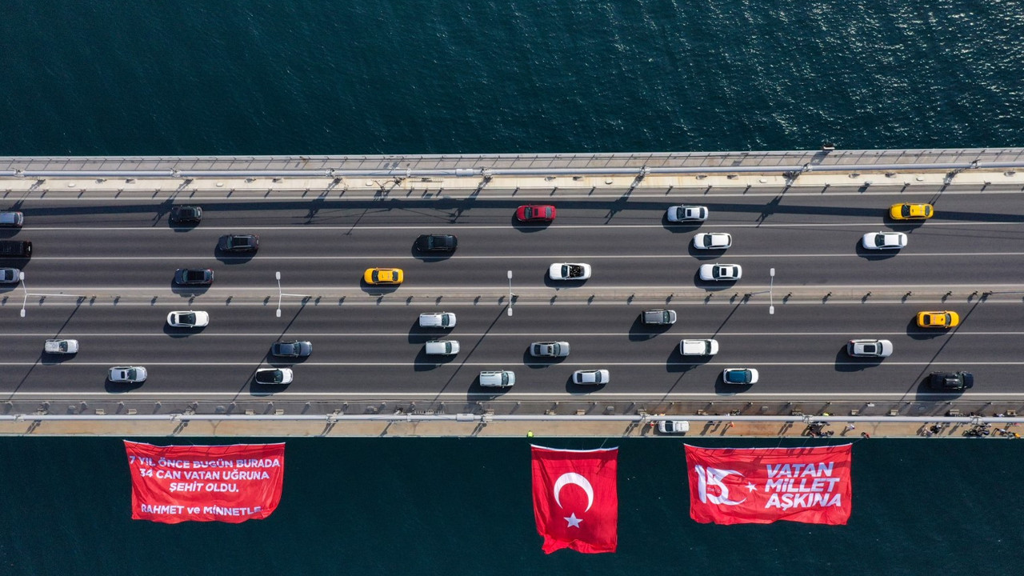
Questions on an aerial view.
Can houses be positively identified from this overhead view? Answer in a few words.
No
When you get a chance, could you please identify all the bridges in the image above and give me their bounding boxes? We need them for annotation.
[0,148,1024,439]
